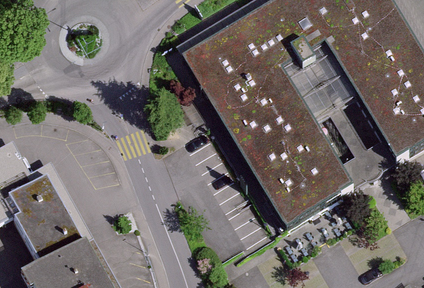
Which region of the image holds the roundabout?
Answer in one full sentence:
The roundabout is located in the top left region of the scene.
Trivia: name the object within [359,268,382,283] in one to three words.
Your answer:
car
